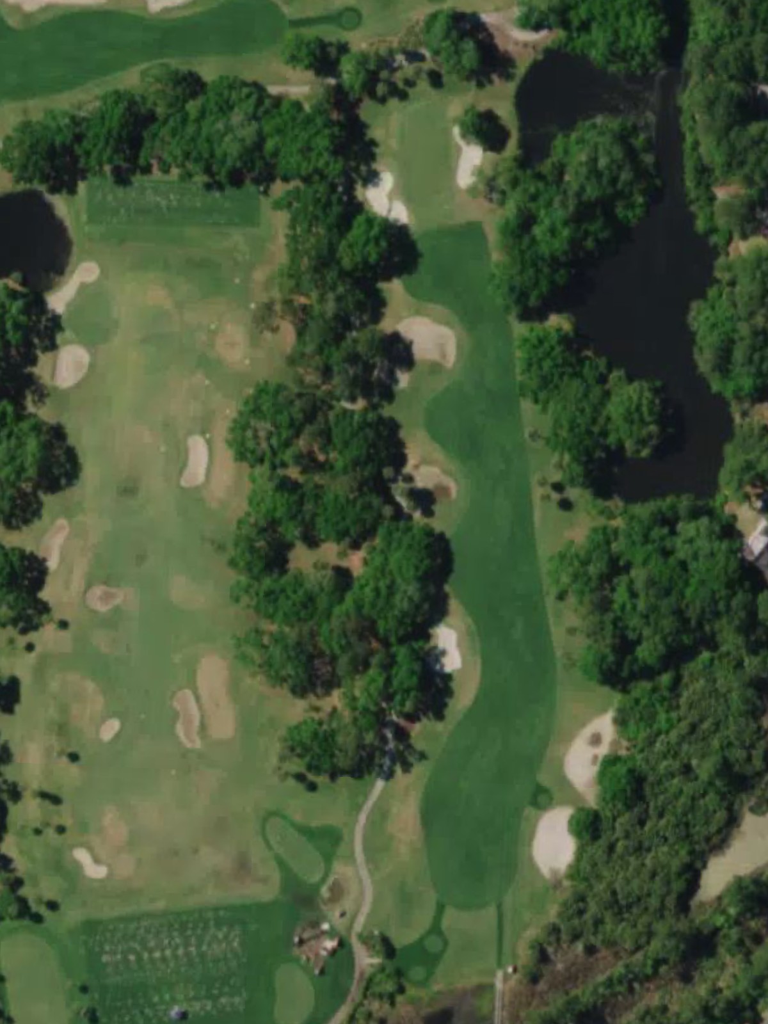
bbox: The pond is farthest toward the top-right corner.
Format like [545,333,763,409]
[515,0,735,505]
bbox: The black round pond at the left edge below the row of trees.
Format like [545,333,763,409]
[0,189,72,298]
